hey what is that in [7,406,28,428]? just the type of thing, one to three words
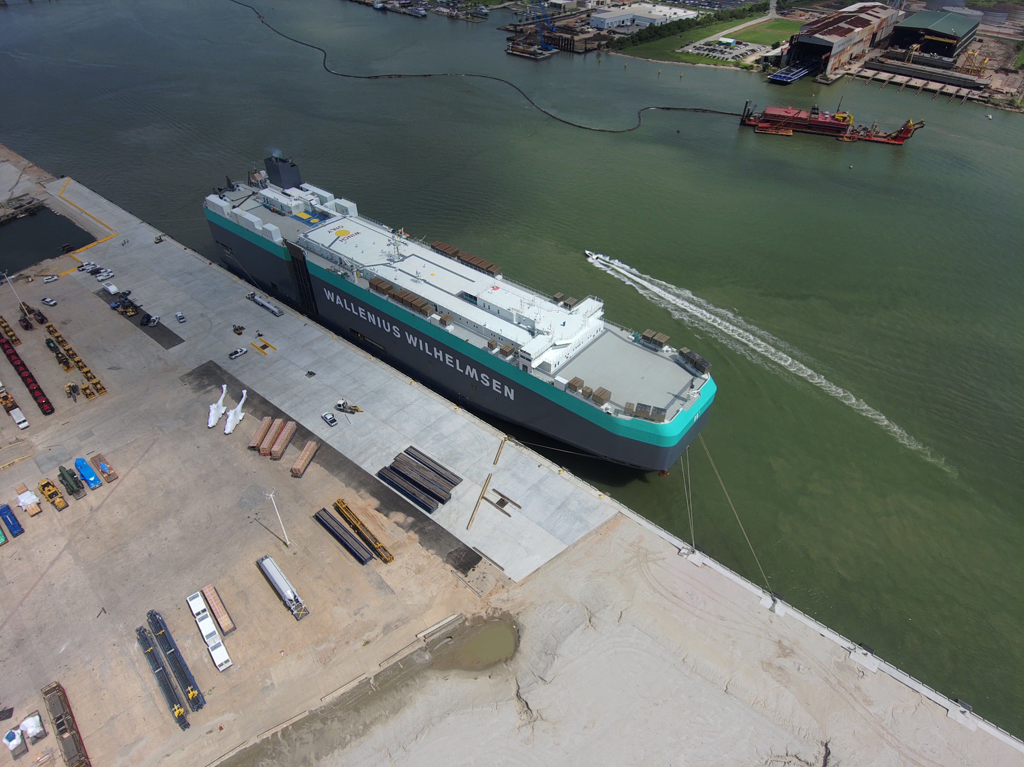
truck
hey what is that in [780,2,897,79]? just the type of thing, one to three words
shed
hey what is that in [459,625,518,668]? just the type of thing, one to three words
pond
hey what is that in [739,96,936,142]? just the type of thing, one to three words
ship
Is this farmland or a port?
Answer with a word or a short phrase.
port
